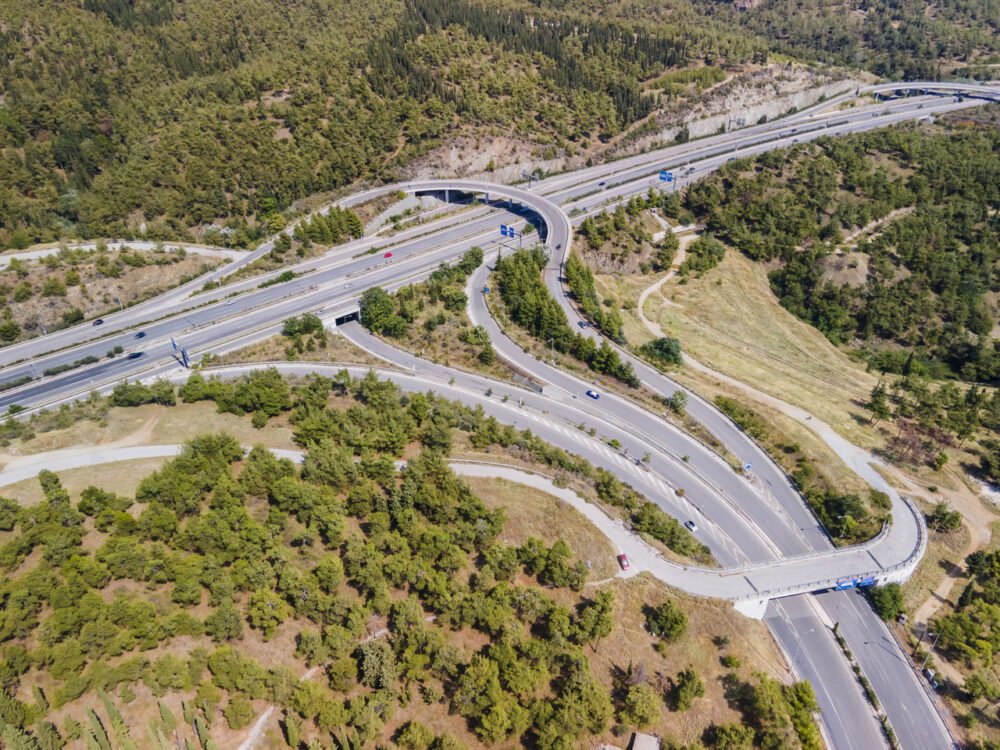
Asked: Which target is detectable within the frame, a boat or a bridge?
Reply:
bridge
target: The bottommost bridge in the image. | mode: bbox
[723,461,922,619]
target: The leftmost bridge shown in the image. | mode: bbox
[413,178,571,259]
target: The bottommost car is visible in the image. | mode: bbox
[615,554,629,572]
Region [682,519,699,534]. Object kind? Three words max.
car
